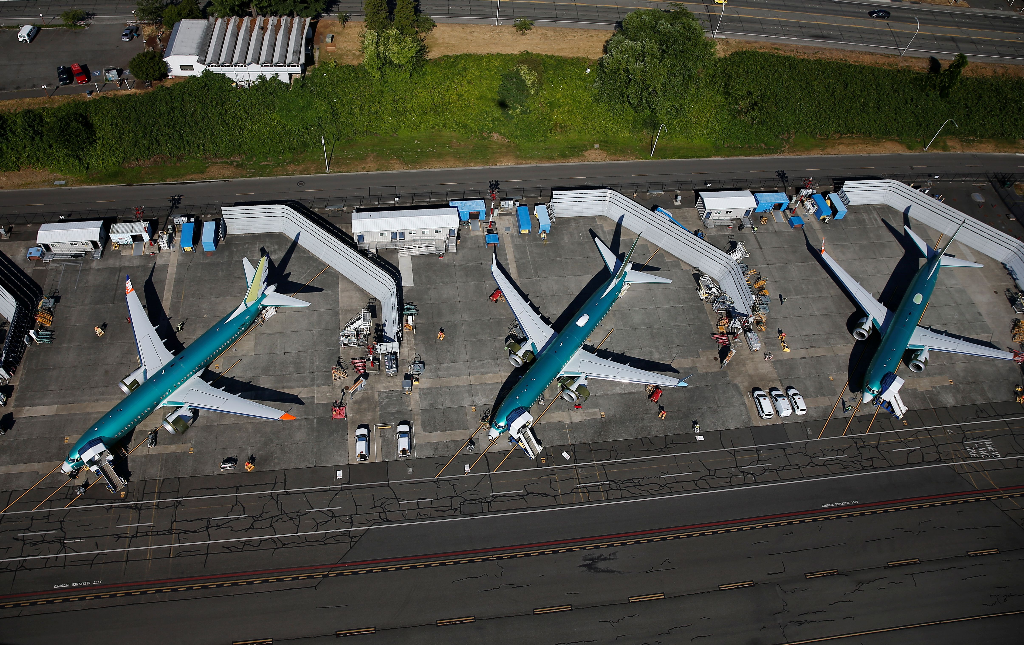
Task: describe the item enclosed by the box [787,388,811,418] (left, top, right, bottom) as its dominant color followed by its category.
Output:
white car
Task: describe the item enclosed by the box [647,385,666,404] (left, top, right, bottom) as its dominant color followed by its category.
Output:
red work vehicle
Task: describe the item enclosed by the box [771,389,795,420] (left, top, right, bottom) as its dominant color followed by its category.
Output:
white vehicle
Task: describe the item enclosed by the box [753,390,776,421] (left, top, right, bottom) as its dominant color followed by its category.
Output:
white vehicle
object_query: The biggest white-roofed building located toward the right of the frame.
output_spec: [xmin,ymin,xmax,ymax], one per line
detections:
[697,190,757,218]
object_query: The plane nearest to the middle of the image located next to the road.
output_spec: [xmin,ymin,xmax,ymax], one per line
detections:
[490,231,693,439]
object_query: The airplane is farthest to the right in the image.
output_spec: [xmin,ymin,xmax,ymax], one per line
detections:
[815,219,1024,403]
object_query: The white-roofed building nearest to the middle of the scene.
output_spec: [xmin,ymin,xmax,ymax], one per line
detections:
[351,208,459,241]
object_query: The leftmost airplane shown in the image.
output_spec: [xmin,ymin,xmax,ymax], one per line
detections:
[60,253,311,474]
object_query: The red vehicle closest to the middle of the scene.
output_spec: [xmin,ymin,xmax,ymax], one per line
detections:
[486,285,503,302]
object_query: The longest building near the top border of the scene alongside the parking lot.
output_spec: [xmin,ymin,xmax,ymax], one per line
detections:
[164,15,311,87]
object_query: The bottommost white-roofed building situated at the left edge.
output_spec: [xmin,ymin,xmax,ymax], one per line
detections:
[36,220,108,252]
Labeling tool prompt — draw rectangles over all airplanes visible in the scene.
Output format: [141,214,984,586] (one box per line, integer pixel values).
[490,231,693,439]
[815,219,1024,403]
[60,253,311,474]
